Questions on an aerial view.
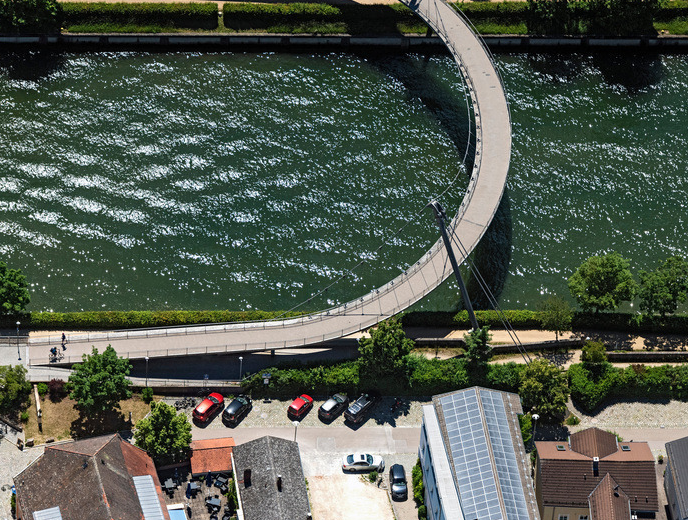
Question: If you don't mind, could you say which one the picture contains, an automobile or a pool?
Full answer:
There is an automobile in the scene.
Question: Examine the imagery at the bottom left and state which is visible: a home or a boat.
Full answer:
What appears at the bottom left is a home.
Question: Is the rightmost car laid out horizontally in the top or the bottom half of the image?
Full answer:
The bottom half of the photo is where the rightmost car laid out horizontally is.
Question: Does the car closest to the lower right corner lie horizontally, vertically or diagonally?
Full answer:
Seen from above, the car closest to the lower right corner lies vertically.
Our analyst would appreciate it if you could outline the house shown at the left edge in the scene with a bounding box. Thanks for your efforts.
[11,433,174,520]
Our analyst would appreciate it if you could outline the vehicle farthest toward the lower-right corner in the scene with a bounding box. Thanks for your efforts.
[389,462,409,500]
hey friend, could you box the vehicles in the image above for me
[341,451,385,472]
[389,462,409,500]
[317,393,350,423]
[286,393,313,421]
[221,394,253,426]
[343,391,379,426]
[191,395,224,425]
